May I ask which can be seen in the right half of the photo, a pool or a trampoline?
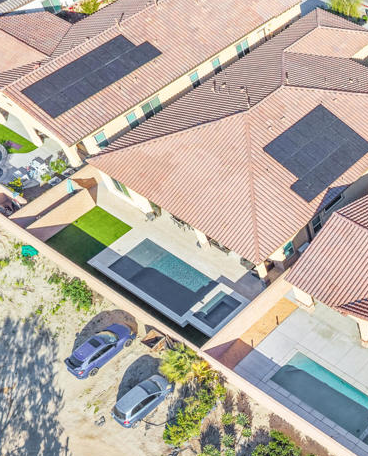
pool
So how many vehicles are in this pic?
two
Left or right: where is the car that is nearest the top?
left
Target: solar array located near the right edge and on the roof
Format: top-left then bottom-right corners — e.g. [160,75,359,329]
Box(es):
[259,99,368,207]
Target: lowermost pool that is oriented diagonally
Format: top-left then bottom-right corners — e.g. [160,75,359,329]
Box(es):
[263,346,368,442]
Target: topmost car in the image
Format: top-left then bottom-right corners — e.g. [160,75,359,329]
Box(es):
[58,323,140,385]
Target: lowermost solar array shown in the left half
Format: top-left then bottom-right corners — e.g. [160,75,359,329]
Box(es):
[15,29,164,112]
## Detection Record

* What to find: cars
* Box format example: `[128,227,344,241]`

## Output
[103,369,181,433]
[58,323,140,385]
